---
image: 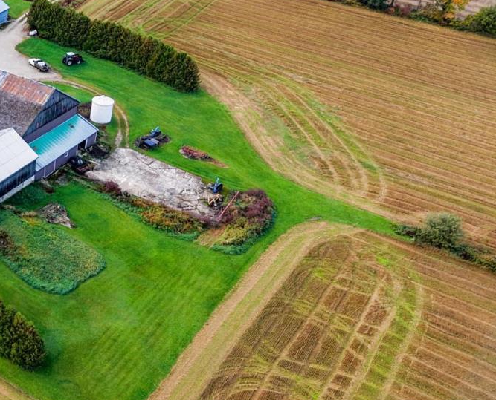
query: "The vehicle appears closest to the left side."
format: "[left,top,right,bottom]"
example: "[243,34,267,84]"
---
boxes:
[27,57,52,71]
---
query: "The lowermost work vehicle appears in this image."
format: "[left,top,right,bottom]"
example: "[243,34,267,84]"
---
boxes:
[210,176,223,192]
